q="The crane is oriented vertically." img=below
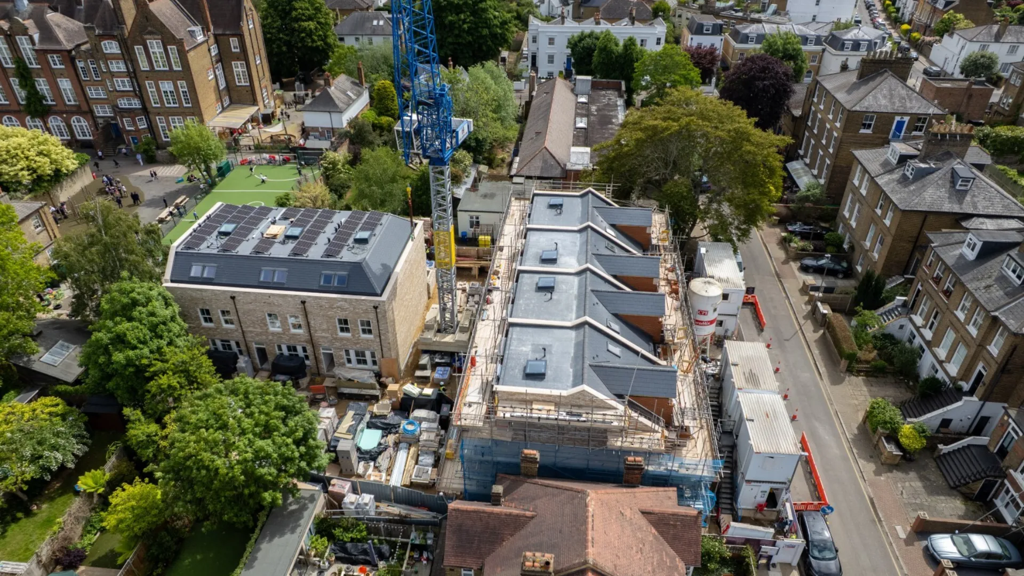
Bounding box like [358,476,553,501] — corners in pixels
[389,0,495,356]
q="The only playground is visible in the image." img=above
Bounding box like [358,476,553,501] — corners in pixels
[12,78,306,276]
